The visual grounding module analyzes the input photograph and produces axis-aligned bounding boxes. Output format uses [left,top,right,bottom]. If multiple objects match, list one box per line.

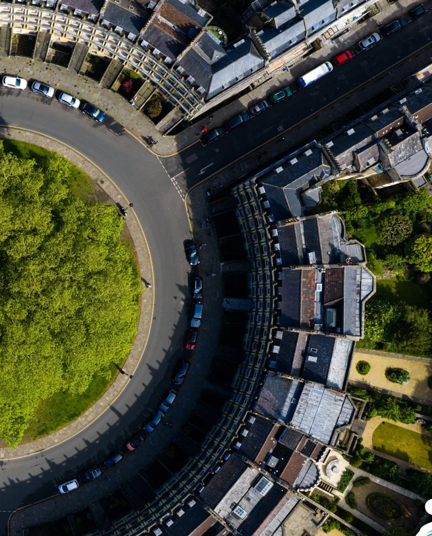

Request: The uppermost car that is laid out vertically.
[183,239,198,265]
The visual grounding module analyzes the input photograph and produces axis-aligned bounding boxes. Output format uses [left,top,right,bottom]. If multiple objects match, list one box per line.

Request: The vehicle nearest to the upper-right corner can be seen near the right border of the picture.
[406,2,429,21]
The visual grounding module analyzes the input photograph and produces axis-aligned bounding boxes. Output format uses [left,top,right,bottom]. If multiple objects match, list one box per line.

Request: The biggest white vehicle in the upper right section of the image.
[296,61,332,89]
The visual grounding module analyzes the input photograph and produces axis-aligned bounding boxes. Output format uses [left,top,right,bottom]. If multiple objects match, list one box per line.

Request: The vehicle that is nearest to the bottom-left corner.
[57,478,80,494]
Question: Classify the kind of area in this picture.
residential area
